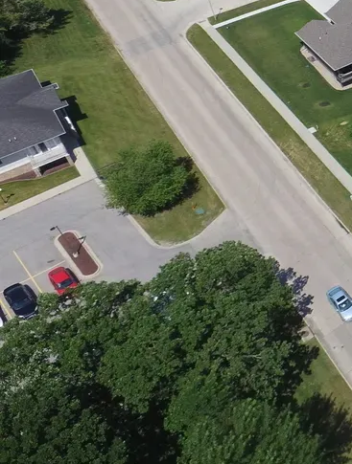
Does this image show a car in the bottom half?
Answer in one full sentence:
Yes, there is a car in the bottom half.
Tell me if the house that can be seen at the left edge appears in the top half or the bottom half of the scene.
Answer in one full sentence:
Seen from above, the house that can be seen at the left edge lies in the top half of the view.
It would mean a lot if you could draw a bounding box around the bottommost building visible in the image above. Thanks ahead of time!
[0,69,75,185]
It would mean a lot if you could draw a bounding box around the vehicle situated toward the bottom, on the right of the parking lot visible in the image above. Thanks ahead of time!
[323,284,352,325]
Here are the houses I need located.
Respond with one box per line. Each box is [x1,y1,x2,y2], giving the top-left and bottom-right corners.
[294,0,352,95]
[0,69,75,185]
